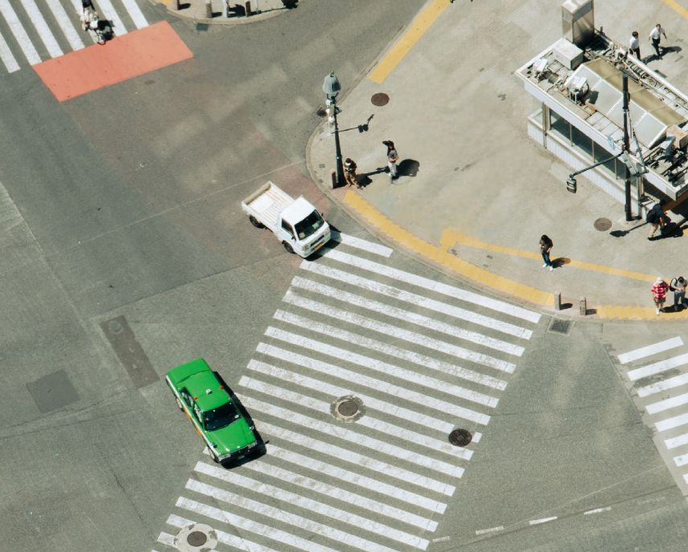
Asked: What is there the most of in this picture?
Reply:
paved ground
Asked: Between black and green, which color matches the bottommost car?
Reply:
green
